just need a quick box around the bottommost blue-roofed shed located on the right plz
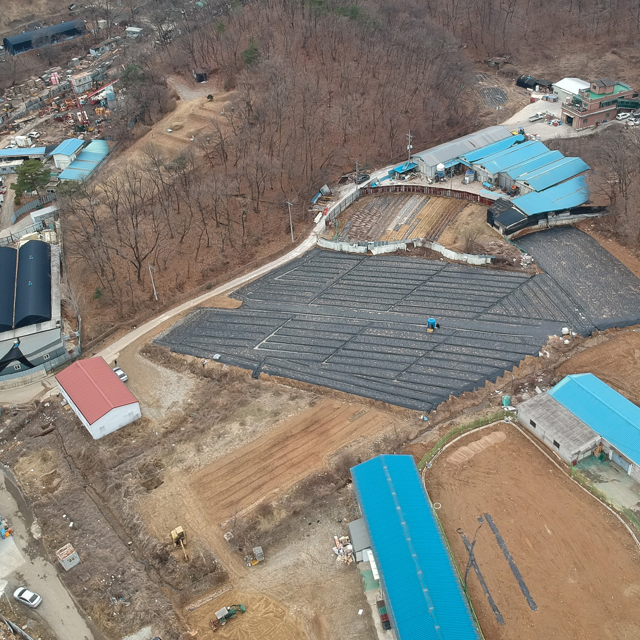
[350,452,480,640]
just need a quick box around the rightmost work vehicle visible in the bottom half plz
[205,601,250,634]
